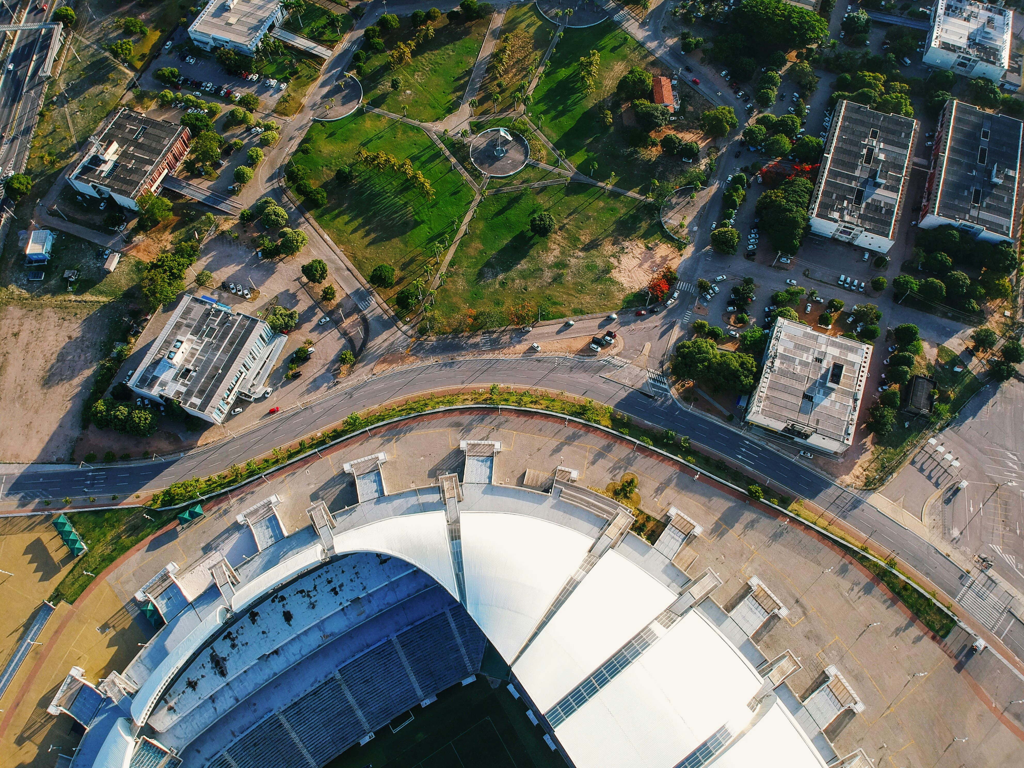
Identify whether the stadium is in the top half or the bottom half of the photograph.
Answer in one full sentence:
It is in the bottom half that the stadium appears.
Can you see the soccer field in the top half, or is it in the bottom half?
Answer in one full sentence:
The soccer field is in the bottom half of the image.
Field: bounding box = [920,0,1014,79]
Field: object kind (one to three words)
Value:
building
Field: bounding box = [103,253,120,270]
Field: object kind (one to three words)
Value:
vehicle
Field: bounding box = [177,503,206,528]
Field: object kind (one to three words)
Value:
tent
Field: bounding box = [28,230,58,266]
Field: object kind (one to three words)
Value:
shed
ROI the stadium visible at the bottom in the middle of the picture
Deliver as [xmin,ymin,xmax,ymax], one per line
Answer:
[50,443,874,768]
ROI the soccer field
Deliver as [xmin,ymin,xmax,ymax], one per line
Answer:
[317,669,570,768]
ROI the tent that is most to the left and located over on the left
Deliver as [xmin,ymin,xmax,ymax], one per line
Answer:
[51,513,93,560]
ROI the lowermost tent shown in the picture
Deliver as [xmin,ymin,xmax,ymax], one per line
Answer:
[139,602,164,631]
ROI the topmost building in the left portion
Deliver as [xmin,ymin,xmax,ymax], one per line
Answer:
[186,0,297,68]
